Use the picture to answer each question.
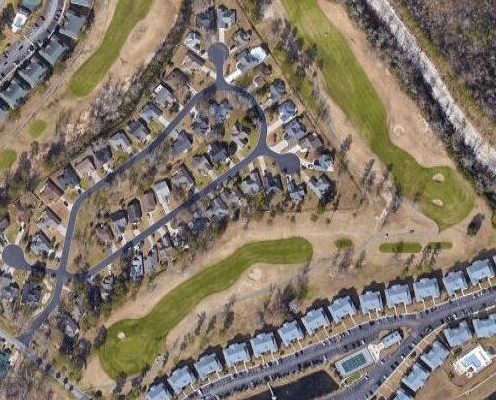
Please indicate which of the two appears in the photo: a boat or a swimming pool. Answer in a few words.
swimming pool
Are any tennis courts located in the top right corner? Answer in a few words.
No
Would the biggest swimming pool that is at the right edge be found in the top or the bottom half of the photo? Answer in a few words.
bottom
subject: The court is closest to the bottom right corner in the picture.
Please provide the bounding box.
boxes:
[336,346,373,377]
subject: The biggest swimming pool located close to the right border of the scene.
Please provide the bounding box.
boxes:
[453,343,495,376]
